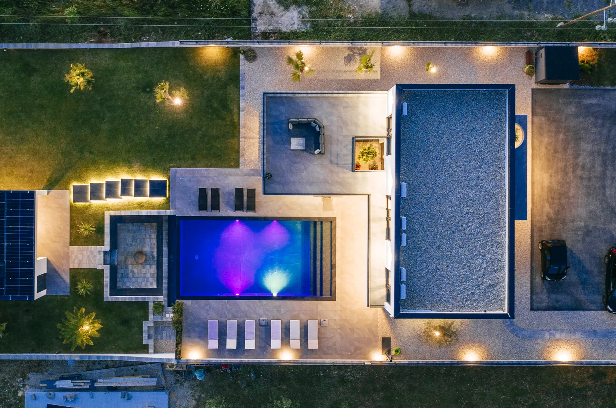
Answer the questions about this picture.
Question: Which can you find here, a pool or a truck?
pool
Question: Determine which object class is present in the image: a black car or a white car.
black car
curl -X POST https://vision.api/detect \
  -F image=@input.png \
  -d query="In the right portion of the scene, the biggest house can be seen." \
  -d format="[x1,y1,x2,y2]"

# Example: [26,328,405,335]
[262,83,528,320]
